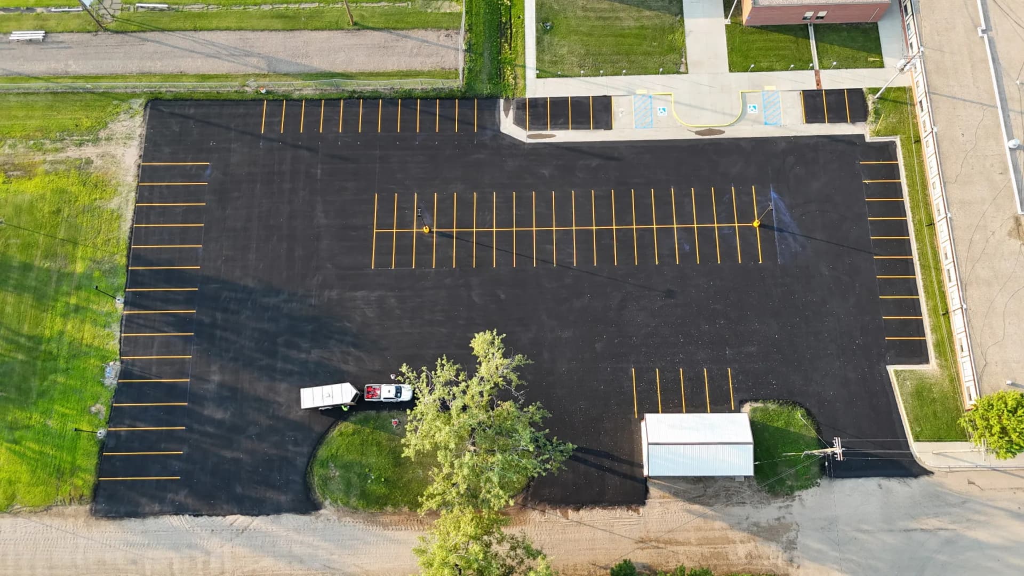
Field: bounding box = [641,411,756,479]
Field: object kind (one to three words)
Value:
shed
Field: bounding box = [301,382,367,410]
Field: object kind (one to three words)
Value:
trailer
